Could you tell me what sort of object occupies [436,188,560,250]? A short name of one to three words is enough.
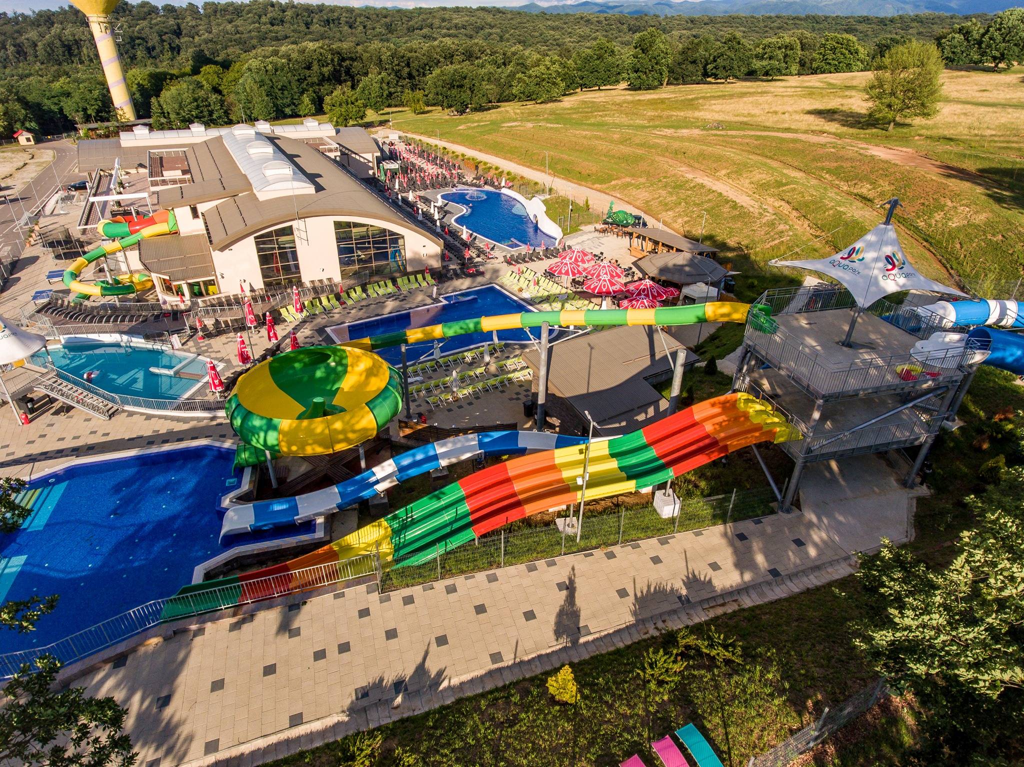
swimming pool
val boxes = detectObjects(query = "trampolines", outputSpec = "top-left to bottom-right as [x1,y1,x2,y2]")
[41,232,90,265]
[30,221,79,251]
